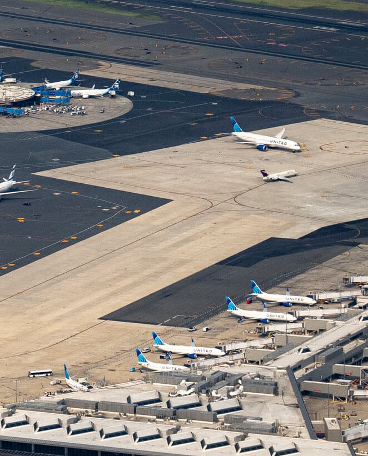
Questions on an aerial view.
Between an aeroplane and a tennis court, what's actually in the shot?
aeroplane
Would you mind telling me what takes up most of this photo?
paved ground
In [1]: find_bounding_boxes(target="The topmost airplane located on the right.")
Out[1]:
[220,120,301,153]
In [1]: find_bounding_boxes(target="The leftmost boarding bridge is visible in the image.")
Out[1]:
[0,105,27,118]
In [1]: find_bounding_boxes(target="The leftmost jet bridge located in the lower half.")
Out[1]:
[193,353,248,367]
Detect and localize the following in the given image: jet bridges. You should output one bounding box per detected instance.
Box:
[219,339,278,354]
[33,93,74,106]
[0,105,27,118]
[341,427,368,443]
[342,274,368,287]
[292,306,348,319]
[311,288,364,305]
[341,418,368,443]
[31,82,52,90]
[193,353,248,367]
[259,320,305,337]
[347,387,368,403]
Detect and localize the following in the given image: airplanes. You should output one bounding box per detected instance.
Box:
[155,333,226,357]
[74,78,119,97]
[42,68,87,89]
[0,65,10,85]
[0,168,38,200]
[258,170,300,181]
[220,120,301,153]
[131,348,197,375]
[249,281,318,307]
[228,297,296,323]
